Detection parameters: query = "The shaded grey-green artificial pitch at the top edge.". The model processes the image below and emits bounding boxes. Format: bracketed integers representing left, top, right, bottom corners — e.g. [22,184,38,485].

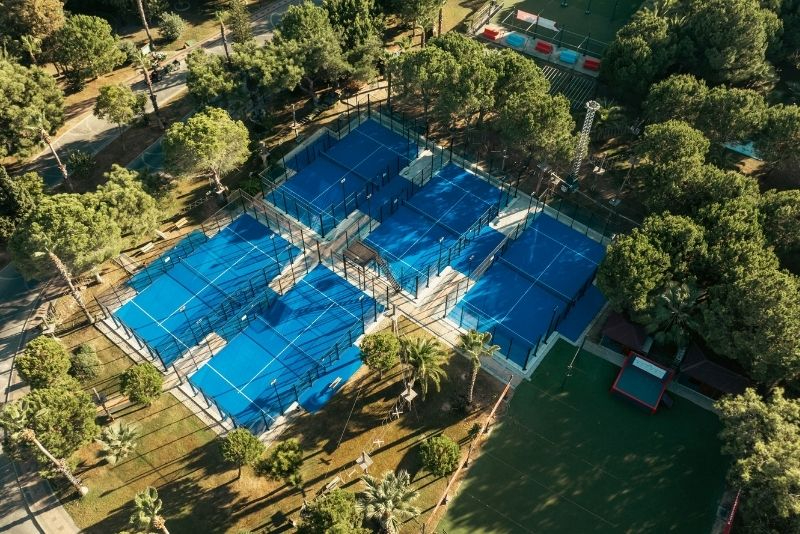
[490,0,680,59]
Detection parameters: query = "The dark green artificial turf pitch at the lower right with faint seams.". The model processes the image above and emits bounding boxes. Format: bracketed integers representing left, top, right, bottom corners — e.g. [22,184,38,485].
[439,338,760,534]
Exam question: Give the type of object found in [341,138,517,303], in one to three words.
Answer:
sports court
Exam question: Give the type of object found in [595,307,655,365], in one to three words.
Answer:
building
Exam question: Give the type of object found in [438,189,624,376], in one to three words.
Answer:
sports court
